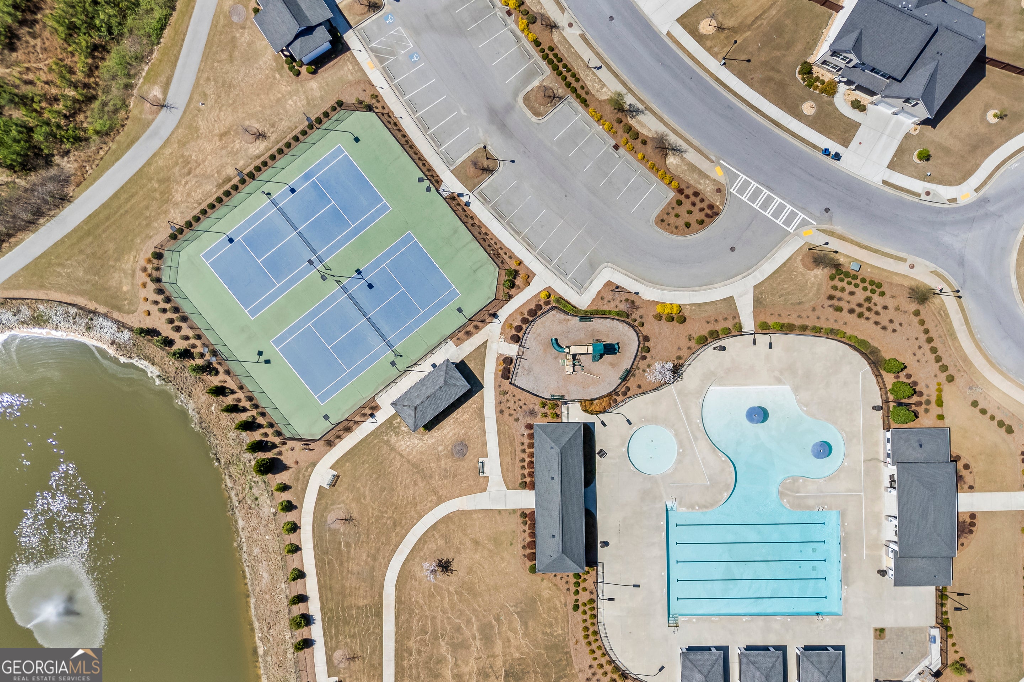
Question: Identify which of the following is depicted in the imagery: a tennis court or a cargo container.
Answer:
tennis court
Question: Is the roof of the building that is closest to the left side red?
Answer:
No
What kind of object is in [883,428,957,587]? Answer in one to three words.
building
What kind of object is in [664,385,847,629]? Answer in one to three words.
swimming pool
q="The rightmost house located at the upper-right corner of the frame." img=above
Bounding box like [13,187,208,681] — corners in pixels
[813,0,985,125]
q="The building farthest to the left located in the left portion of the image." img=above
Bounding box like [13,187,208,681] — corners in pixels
[245,0,334,65]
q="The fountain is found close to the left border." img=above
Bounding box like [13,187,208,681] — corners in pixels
[0,541,110,673]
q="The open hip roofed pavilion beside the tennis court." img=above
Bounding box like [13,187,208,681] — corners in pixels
[390,358,471,433]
